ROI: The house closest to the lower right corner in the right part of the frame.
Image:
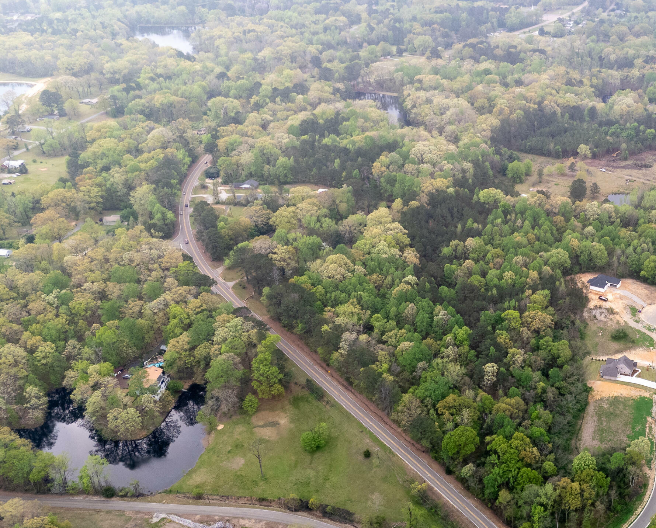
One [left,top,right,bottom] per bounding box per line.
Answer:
[600,351,644,380]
